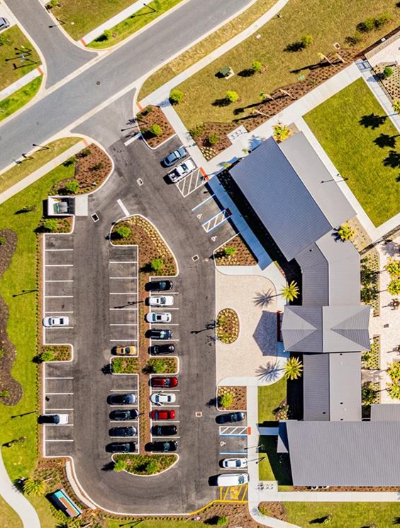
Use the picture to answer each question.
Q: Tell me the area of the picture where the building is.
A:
right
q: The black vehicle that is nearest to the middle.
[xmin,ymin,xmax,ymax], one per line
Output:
[146,280,173,292]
